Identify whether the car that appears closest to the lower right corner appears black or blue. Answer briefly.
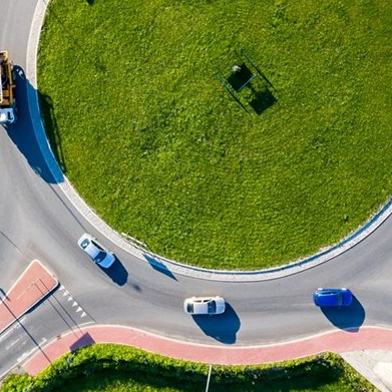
blue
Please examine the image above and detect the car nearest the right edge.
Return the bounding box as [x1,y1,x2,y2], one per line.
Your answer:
[315,287,352,307]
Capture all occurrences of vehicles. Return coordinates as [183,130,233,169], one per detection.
[0,49,20,124]
[315,287,352,307]
[78,232,115,266]
[186,295,224,315]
